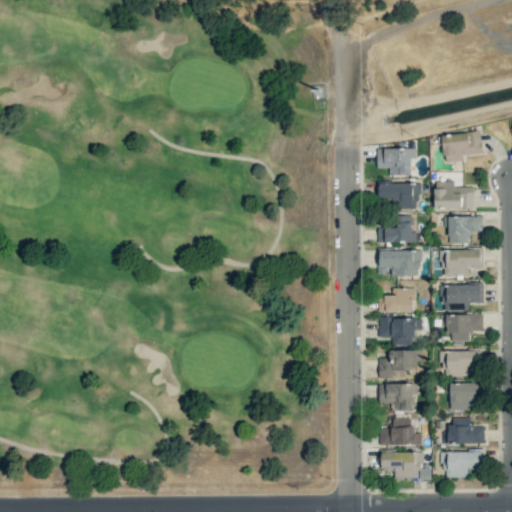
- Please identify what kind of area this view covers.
golf course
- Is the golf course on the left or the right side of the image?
left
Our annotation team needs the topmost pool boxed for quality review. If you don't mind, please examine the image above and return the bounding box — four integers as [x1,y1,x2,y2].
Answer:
[412,156,430,178]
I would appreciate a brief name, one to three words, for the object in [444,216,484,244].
house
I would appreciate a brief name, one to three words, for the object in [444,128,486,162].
house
